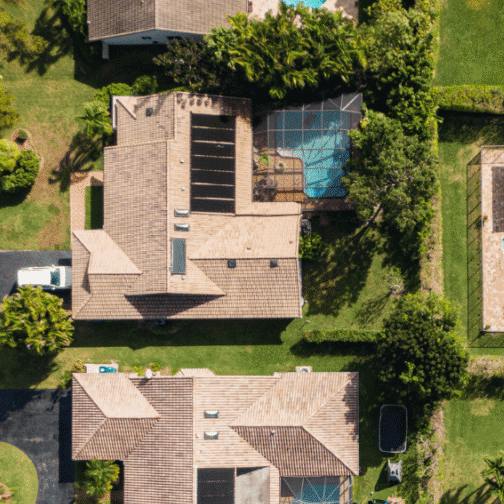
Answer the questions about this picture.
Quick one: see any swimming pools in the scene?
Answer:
Yes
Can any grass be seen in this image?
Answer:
Yes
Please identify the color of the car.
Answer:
white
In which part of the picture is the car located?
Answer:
left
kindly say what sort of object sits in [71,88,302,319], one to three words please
house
